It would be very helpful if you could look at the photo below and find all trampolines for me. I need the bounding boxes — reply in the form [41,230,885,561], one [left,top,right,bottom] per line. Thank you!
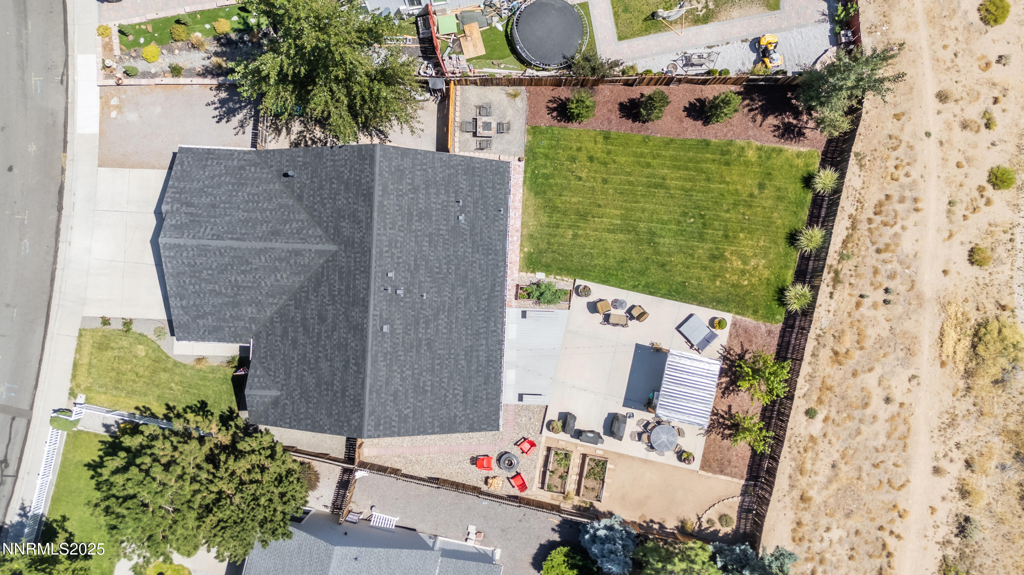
[511,0,591,70]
